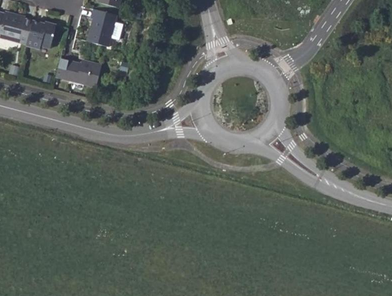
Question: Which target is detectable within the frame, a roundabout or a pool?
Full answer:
There is a roundabout in the scene.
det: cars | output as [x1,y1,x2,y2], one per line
[81,10,92,15]
[149,123,160,128]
